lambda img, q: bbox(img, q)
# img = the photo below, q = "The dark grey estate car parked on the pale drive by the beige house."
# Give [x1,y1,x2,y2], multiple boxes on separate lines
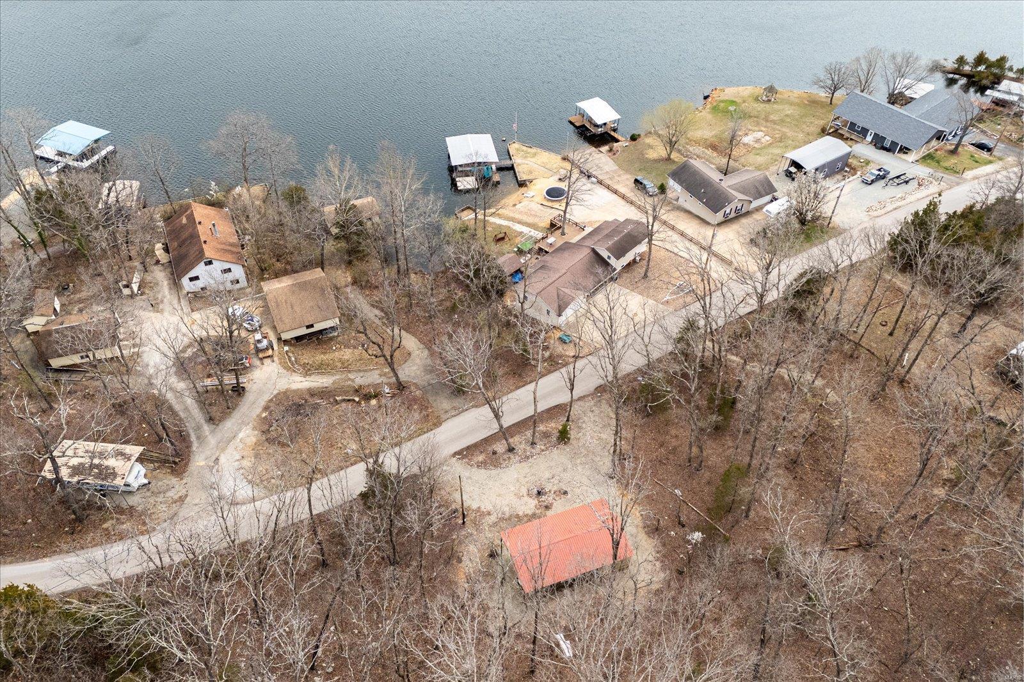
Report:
[634,174,657,196]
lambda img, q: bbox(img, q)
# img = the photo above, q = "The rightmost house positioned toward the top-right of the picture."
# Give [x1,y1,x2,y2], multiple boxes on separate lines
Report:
[827,87,980,164]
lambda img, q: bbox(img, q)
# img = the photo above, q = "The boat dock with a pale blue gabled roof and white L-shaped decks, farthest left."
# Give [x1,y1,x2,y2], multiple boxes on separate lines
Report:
[35,120,117,175]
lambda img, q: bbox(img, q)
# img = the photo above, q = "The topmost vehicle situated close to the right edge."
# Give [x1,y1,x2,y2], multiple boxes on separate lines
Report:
[969,138,997,153]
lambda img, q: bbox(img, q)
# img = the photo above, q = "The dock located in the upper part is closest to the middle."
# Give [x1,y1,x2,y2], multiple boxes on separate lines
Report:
[445,132,515,184]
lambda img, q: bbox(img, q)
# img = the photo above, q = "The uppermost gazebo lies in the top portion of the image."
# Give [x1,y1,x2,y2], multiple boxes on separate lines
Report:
[759,79,781,99]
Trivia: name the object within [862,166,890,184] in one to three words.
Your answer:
vehicle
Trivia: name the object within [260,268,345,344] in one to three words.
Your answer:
building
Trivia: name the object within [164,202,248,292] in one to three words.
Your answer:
house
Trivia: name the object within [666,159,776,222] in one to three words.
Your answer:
house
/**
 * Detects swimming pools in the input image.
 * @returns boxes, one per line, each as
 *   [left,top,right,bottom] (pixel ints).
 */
[544,181,570,200]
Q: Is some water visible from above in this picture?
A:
Yes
